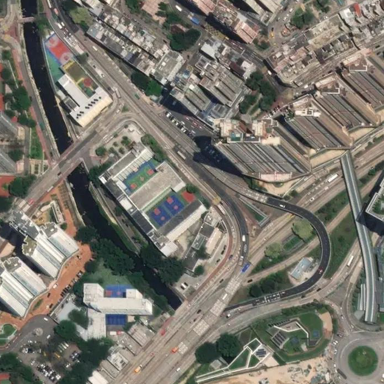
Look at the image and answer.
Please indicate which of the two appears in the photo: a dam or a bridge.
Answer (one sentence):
Visible in the photo is a bridge.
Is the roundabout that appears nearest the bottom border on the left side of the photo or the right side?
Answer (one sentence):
The roundabout that appears nearest the bottom border appears in the right half of the scene.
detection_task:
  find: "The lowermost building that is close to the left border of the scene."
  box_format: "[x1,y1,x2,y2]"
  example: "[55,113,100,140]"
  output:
[0,258,45,311]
